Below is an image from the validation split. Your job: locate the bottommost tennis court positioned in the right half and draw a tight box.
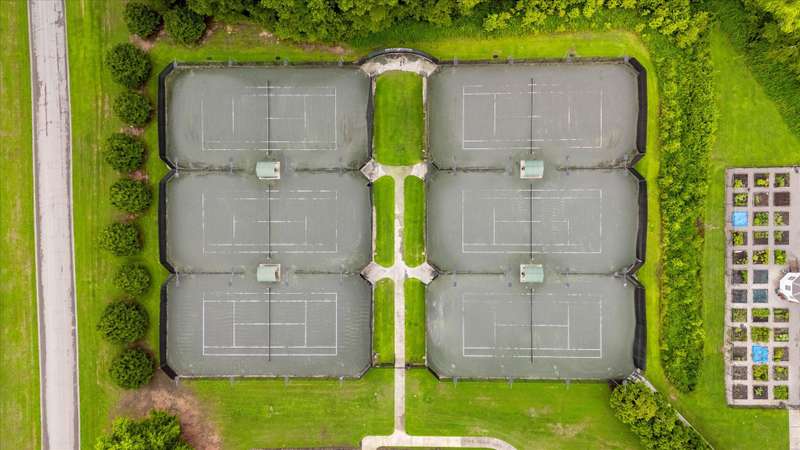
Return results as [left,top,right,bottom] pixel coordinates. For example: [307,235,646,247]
[428,273,637,378]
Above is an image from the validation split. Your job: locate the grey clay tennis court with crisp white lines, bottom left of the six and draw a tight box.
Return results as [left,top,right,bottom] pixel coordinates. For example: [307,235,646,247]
[168,273,372,377]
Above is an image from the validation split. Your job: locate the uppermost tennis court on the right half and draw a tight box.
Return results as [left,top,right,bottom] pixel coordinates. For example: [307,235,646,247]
[430,63,638,170]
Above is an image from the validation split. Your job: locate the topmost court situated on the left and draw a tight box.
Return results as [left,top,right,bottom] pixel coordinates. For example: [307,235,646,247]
[166,66,370,170]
